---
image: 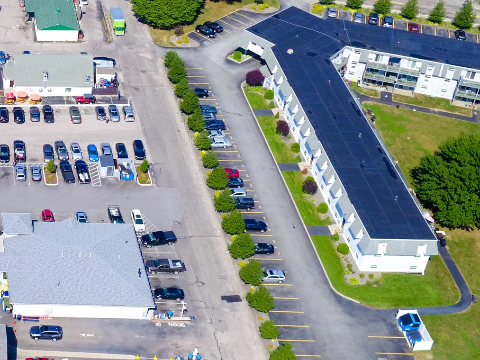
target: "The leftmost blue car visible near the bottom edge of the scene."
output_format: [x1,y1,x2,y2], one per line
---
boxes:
[30,325,62,343]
